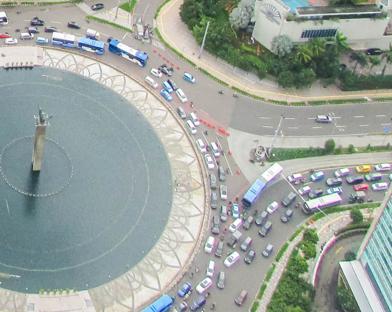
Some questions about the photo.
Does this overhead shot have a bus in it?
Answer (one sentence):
Yes, a bus is visible in the scene.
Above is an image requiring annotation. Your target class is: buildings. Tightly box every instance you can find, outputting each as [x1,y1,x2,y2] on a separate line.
[337,180,392,312]
[255,0,392,55]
